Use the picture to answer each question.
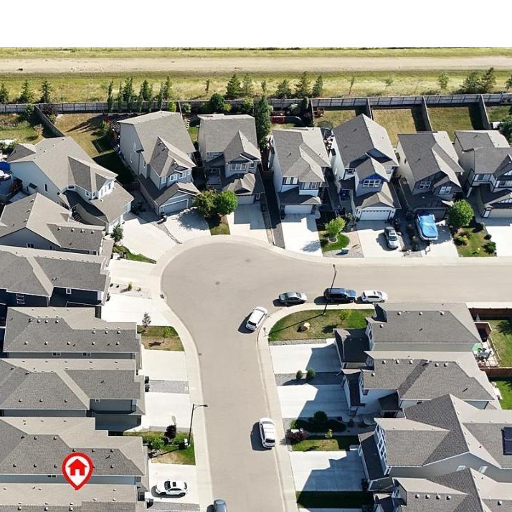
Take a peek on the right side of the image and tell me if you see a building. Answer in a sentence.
Yes, a building appears on the right side of the image.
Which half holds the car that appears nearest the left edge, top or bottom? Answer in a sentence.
The car that appears nearest the left edge sits in the bottom half of the picture.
